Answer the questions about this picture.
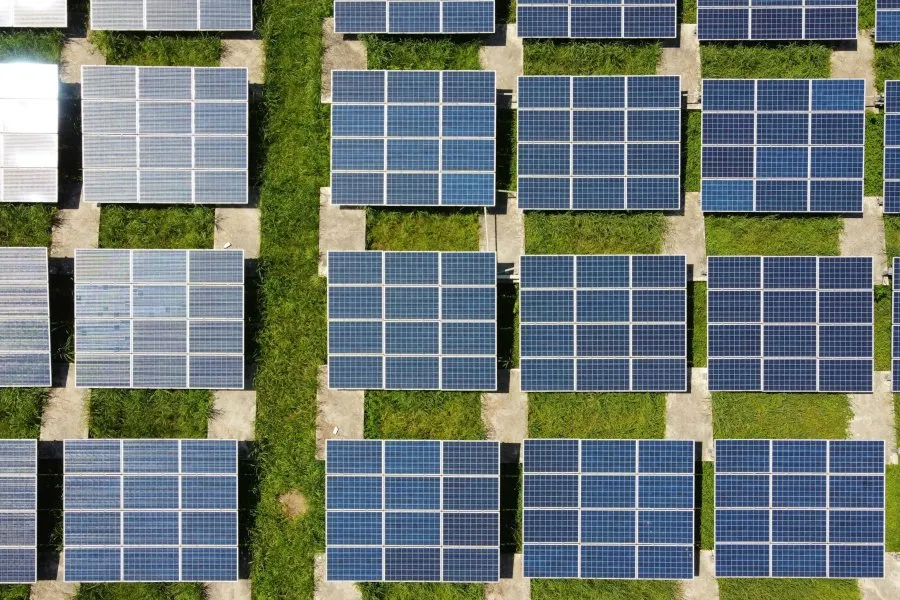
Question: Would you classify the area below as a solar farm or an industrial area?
solar farm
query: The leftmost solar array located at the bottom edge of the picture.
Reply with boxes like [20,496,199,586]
[0,439,49,582]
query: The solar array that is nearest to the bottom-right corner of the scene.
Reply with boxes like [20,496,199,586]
[710,439,884,578]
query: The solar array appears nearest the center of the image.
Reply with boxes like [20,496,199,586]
[328,252,497,389]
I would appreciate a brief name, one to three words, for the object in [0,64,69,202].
solar array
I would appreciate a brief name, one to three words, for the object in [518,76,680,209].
solar array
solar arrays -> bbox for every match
[520,256,687,391]
[518,76,680,209]
[710,439,884,578]
[871,81,900,213]
[0,439,49,582]
[0,64,69,202]
[516,0,676,39]
[334,0,495,33]
[880,257,900,392]
[0,248,60,387]
[523,439,694,578]
[867,0,900,42]
[63,439,243,582]
[330,70,496,206]
[328,252,497,389]
[0,0,73,27]
[326,440,500,582]
[701,257,873,392]
[82,66,251,204]
[91,0,253,31]
[697,79,865,212]
[75,249,248,388]
[694,0,857,40]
